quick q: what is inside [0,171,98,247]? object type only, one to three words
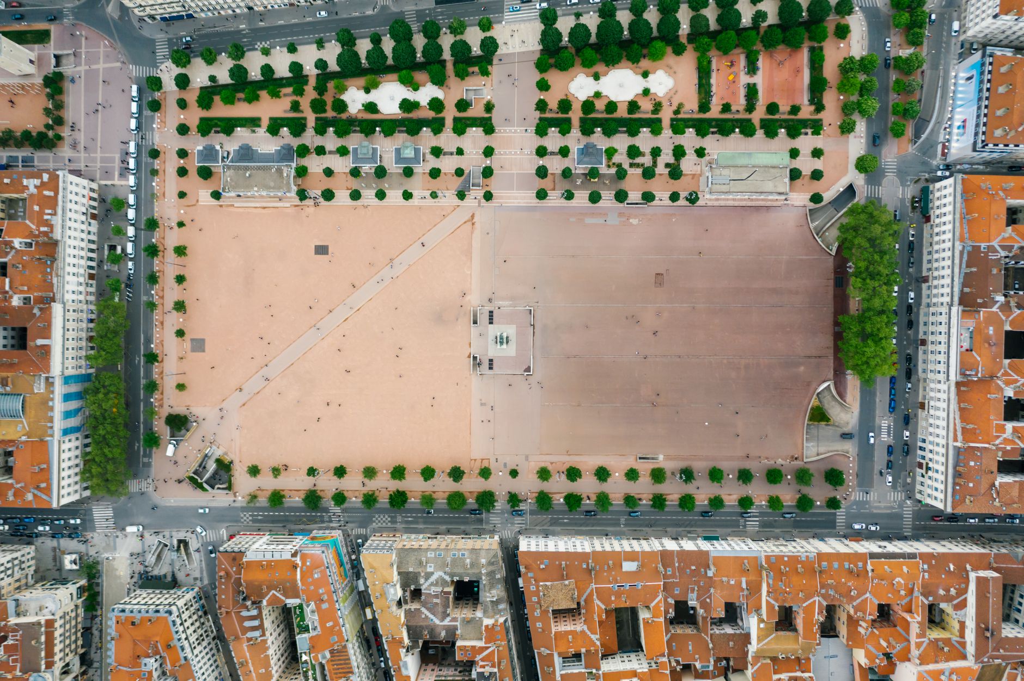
building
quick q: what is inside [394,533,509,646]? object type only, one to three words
building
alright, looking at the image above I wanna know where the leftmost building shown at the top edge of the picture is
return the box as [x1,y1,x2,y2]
[0,34,36,75]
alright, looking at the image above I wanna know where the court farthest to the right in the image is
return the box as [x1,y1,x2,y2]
[763,47,804,104]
